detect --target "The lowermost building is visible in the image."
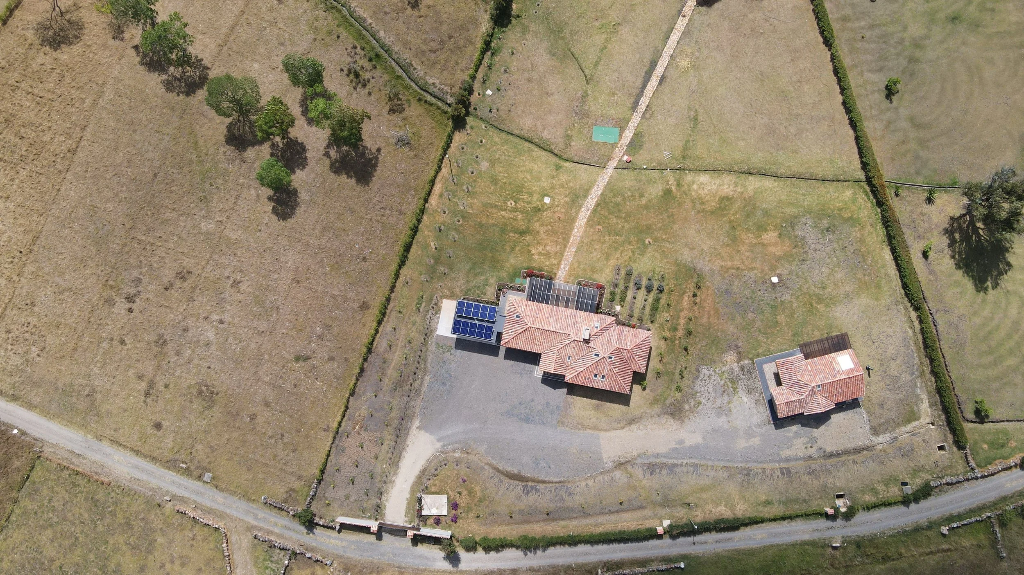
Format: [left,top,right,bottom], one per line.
[770,348,866,419]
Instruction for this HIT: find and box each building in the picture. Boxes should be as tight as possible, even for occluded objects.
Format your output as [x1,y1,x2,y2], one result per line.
[770,348,866,419]
[500,298,653,395]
